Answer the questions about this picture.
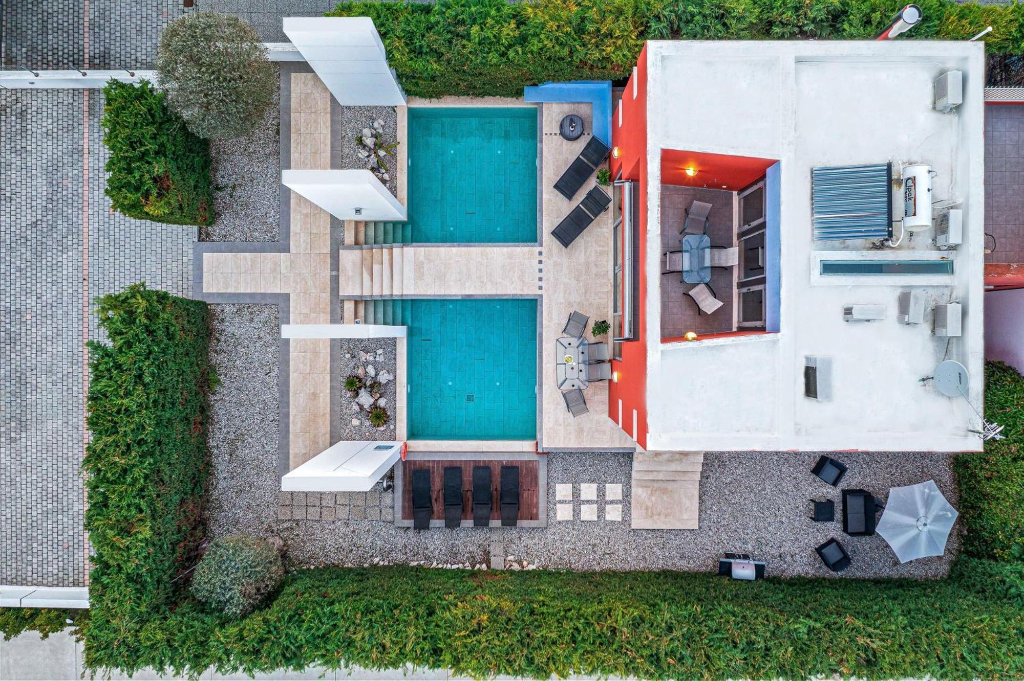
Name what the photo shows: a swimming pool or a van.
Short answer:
swimming pool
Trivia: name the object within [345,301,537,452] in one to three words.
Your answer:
swimming pool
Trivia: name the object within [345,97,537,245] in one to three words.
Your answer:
swimming pool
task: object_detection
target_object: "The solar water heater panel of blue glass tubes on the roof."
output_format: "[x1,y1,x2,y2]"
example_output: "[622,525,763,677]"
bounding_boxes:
[809,161,895,241]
